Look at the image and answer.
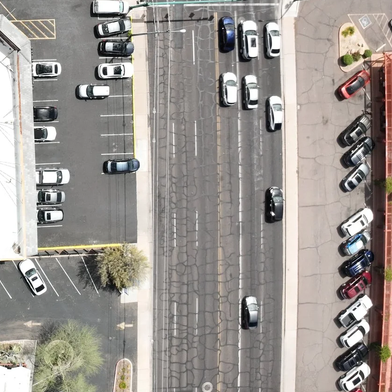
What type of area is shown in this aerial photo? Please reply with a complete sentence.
The area seen from above is a parking lot.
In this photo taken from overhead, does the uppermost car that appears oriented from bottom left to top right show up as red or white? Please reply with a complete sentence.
The uppermost car that appears oriented from bottom left to top right looks red in the image.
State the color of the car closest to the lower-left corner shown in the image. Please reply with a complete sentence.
The car closest to the lower-left corner looks white in the image.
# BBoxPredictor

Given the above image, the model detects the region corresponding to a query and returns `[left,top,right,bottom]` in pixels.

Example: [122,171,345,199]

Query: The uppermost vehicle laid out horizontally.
[91,0,129,16]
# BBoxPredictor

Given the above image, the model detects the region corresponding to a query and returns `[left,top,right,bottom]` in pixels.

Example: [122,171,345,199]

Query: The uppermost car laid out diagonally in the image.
[334,68,370,101]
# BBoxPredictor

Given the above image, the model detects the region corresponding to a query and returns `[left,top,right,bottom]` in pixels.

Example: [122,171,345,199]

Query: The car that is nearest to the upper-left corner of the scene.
[31,62,62,77]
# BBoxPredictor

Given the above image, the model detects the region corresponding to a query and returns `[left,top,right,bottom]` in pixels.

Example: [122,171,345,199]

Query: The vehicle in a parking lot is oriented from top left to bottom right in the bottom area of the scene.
[18,258,49,296]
